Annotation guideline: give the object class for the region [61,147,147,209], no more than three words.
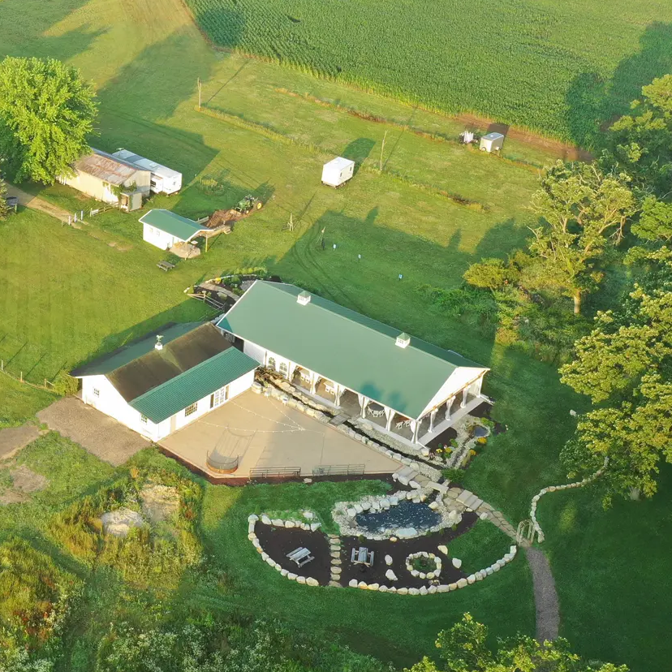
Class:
shed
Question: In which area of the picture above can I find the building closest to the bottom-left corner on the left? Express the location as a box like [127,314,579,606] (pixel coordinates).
[71,320,259,442]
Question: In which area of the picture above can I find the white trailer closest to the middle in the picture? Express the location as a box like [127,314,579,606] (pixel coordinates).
[321,156,353,186]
